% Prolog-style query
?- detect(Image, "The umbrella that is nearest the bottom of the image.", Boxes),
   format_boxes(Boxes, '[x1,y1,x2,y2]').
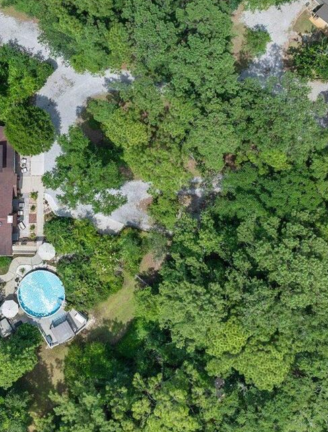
[1,300,18,317]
